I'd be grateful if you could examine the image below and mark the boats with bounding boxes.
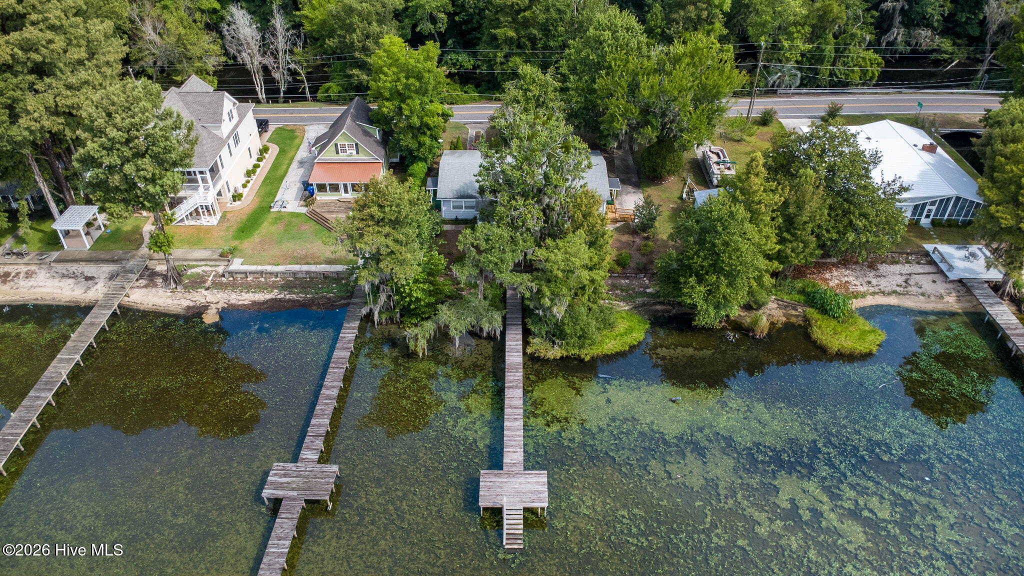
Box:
[704,145,741,183]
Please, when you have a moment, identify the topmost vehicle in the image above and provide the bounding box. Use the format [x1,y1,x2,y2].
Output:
[256,112,275,135]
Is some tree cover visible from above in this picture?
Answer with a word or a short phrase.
Yes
